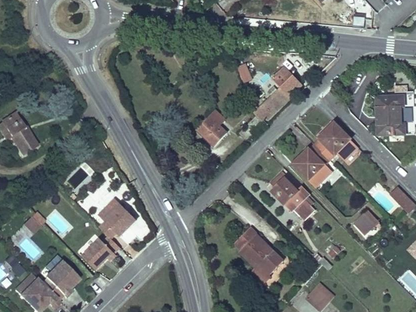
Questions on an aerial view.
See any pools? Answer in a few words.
Yes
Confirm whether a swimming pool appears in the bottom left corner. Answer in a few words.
Yes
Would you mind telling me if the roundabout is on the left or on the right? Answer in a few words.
left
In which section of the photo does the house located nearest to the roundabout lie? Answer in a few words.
left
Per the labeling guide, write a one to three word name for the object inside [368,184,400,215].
swimming pool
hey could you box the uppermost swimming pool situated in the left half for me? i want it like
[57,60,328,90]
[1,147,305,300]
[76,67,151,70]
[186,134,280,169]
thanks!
[64,165,94,193]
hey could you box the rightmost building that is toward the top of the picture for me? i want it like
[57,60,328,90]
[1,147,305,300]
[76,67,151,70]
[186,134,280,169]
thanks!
[374,93,416,138]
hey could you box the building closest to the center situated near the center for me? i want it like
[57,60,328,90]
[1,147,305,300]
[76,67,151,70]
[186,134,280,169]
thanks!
[198,110,230,148]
